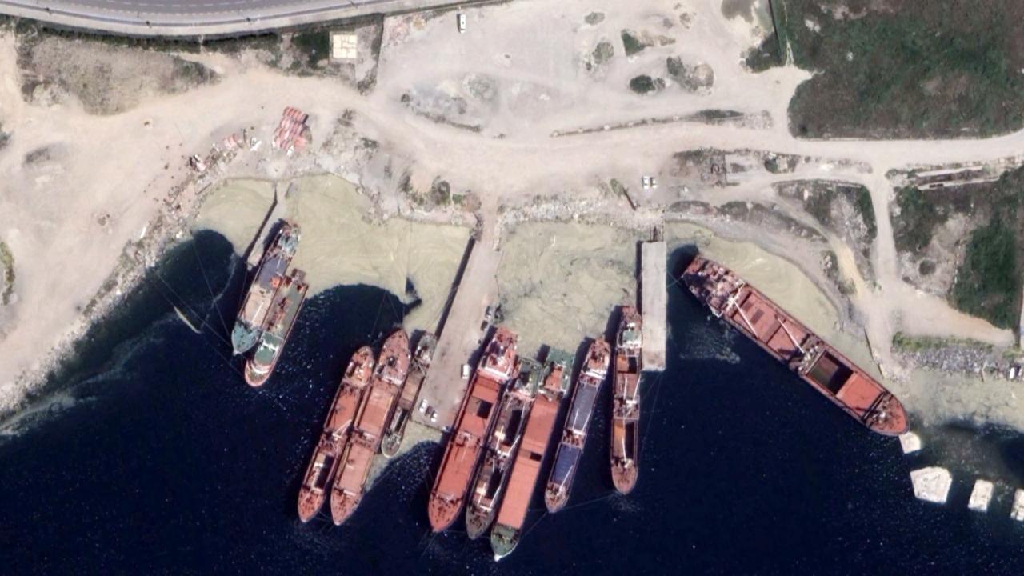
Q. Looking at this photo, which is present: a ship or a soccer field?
ship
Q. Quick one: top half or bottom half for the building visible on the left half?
top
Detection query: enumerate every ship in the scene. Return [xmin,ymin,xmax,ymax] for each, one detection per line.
[428,327,516,532]
[331,328,407,525]
[301,345,371,523]
[230,220,298,354]
[489,347,575,561]
[546,336,606,513]
[682,253,908,436]
[247,270,309,388]
[613,306,642,495]
[465,355,536,540]
[382,332,431,458]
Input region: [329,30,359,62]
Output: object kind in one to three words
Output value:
building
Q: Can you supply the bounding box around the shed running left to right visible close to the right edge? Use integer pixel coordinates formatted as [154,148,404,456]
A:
[917,165,1001,189]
